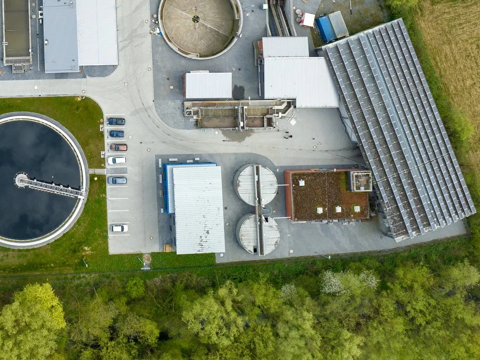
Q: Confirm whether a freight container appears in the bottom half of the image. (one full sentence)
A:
No, I see no freight container in the bottom half of the image.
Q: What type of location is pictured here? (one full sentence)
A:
What you see here is an industrial area.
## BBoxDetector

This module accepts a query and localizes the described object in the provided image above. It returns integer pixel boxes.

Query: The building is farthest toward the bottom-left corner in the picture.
[162,161,225,254]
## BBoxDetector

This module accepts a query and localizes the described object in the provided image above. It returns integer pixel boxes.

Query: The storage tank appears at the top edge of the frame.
[158,0,243,59]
